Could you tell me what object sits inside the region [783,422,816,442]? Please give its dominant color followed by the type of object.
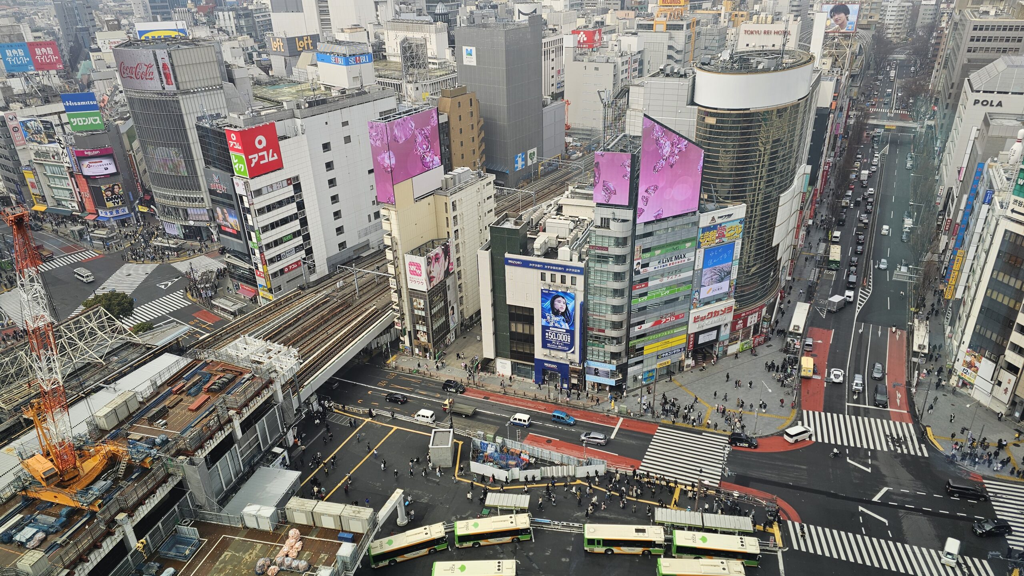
white vehicle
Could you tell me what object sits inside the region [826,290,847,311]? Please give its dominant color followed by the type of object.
gray truck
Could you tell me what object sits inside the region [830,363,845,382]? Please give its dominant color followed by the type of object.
white car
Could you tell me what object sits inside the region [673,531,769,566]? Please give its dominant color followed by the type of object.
white bus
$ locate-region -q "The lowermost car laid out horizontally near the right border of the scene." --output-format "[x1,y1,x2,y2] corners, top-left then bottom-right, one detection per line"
[971,518,1017,539]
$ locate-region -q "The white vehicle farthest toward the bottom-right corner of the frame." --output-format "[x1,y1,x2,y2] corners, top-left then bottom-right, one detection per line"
[941,528,965,566]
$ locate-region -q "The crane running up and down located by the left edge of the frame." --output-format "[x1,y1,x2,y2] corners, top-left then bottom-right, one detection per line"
[0,195,162,525]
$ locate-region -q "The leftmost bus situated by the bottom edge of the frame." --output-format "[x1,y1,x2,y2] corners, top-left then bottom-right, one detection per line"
[367,519,455,568]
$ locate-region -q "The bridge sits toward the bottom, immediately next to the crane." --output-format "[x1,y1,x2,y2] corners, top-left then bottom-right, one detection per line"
[146,254,390,460]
